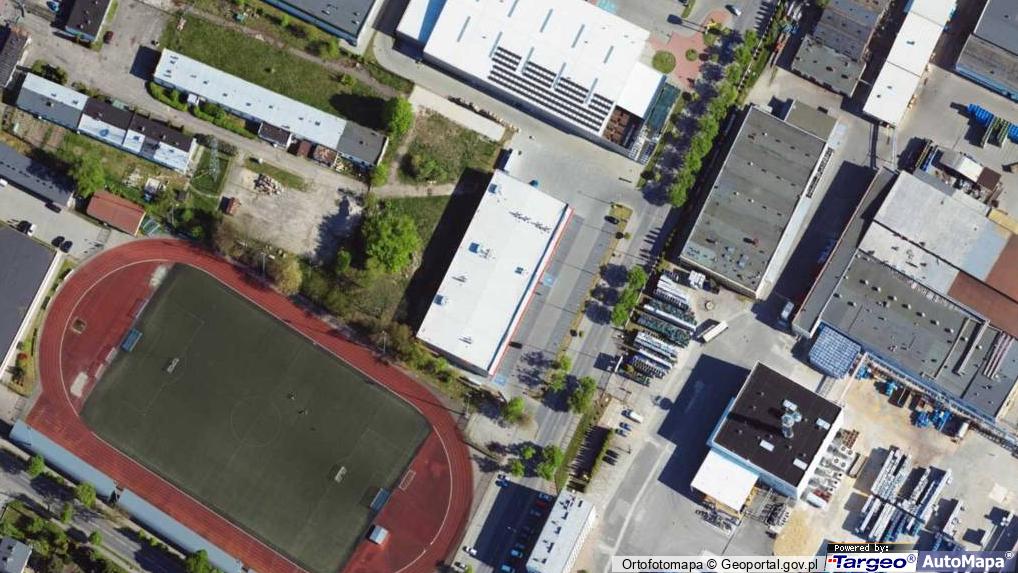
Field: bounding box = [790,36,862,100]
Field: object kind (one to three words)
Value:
building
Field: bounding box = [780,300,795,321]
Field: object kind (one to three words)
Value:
vehicle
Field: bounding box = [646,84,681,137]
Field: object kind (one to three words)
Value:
house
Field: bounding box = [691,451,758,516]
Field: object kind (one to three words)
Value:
building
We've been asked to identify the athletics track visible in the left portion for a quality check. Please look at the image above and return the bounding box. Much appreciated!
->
[26,237,472,573]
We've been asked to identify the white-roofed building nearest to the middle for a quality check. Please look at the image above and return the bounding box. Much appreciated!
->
[417,169,577,377]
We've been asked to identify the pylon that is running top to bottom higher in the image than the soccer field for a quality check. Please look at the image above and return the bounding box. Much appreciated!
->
[202,141,223,188]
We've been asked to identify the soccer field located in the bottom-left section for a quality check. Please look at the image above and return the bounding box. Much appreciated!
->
[83,263,431,573]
